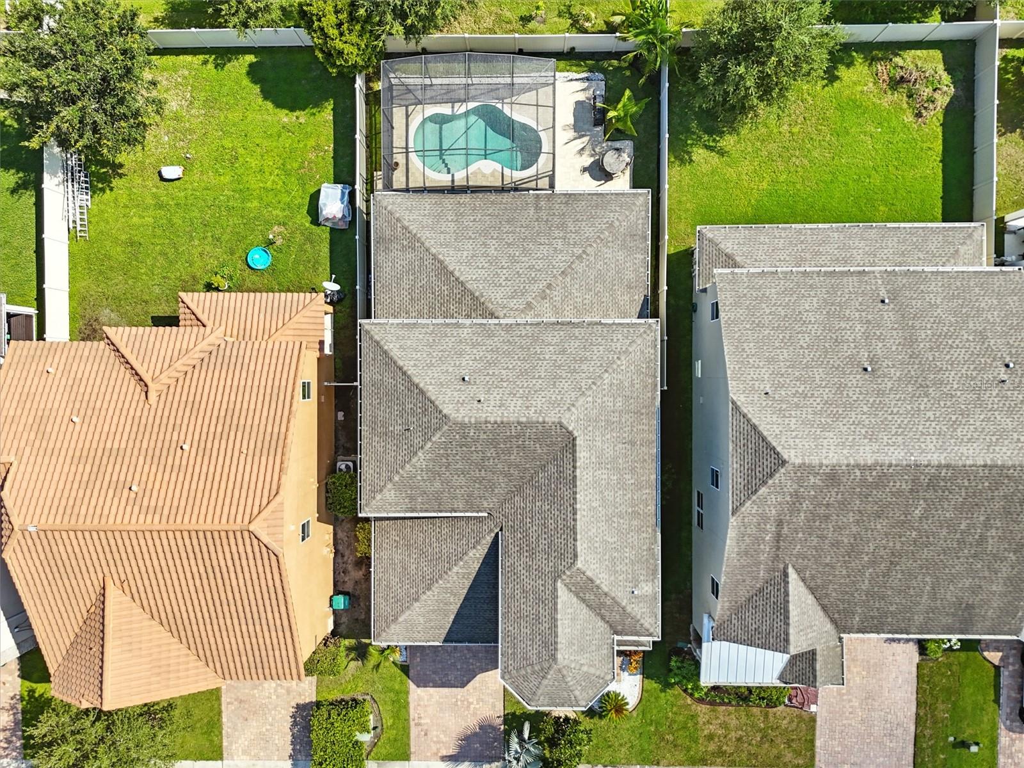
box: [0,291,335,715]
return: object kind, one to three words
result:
house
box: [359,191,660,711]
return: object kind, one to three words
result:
house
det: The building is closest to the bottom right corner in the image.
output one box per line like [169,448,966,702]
[691,224,1024,690]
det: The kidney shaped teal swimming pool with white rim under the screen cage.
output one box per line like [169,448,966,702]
[407,98,548,180]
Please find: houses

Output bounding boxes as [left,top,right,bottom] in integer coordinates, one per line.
[691,224,1024,690]
[359,191,660,711]
[0,291,335,715]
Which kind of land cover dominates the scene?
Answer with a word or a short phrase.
buildings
